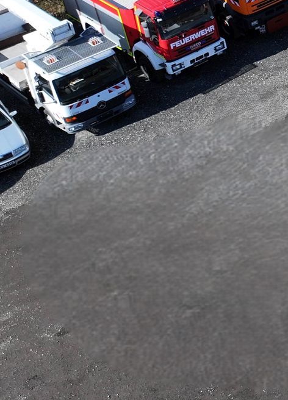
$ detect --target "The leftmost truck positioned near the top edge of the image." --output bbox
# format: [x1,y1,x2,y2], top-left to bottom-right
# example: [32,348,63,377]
[0,0,131,135]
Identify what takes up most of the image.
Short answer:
paved ground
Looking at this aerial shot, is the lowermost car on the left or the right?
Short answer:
left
